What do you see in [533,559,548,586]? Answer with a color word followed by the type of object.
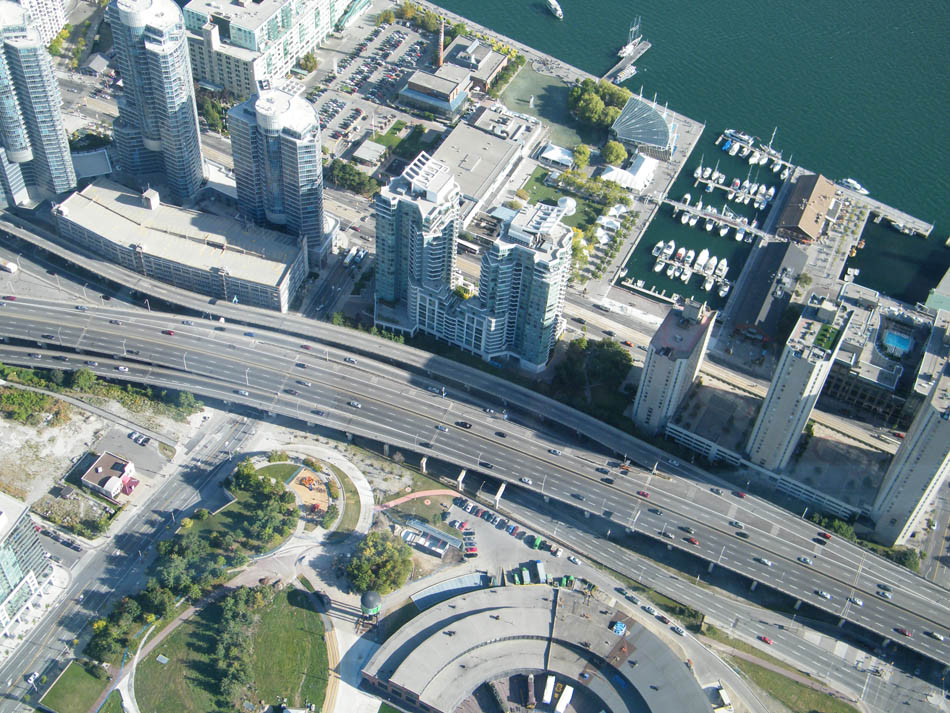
white vehicle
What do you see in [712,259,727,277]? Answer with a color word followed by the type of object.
white boat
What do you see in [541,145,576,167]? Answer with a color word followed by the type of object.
white tent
